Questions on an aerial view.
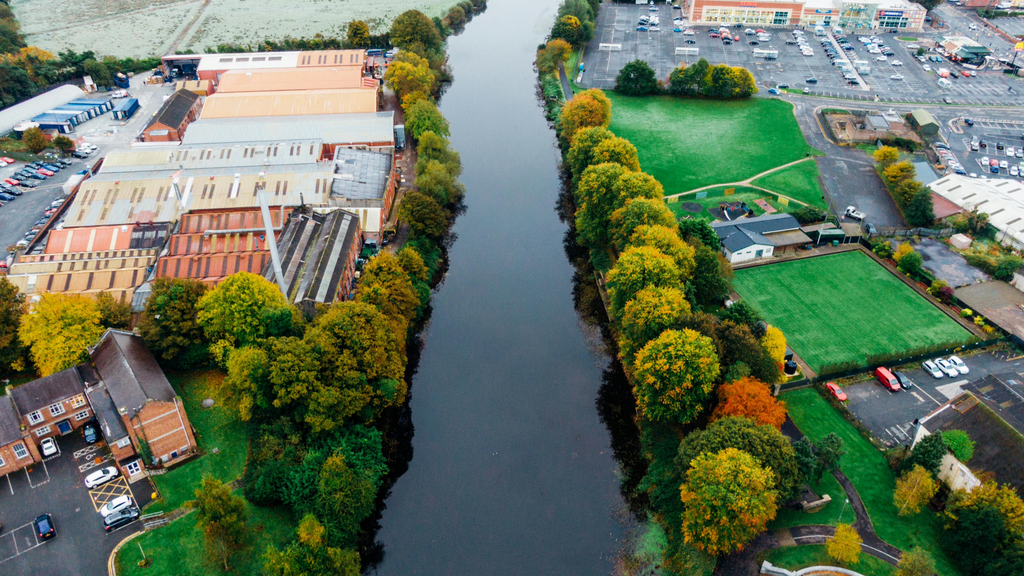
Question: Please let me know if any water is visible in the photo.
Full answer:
Yes, there's water in this view.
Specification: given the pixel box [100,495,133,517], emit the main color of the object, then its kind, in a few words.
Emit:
white car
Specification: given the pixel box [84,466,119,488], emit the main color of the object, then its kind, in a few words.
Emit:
white car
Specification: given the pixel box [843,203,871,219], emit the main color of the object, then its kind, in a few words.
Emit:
white vehicle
